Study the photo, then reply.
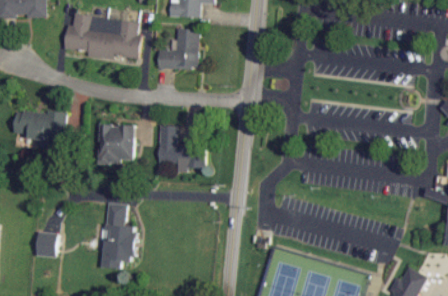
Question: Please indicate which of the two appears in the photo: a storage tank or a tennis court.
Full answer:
The one in the frame is a tennis court.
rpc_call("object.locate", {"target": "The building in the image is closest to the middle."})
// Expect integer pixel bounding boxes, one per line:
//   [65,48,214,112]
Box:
[159,126,206,174]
